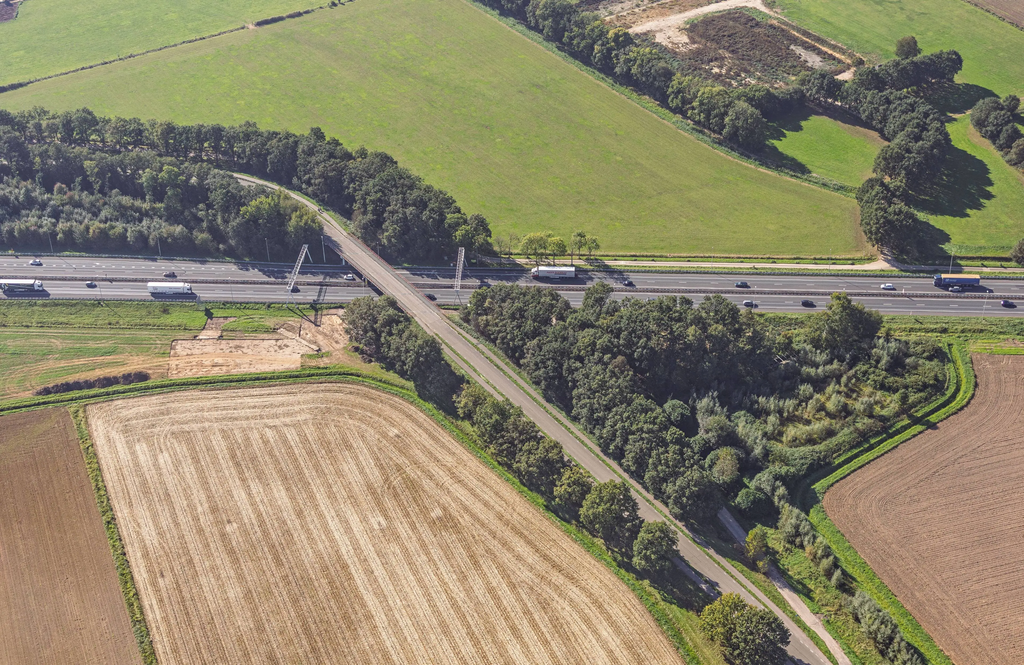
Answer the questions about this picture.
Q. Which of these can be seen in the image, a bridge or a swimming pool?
bridge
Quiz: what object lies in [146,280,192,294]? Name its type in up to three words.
vehicle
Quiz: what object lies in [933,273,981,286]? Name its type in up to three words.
vehicle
